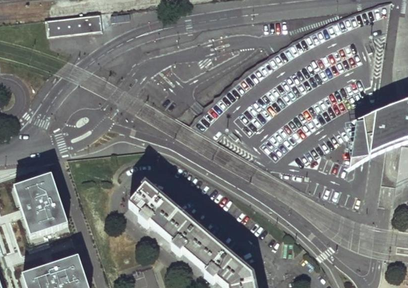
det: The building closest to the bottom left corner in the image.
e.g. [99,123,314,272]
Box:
[20,254,88,288]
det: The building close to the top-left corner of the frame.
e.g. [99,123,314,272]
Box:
[45,15,102,40]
